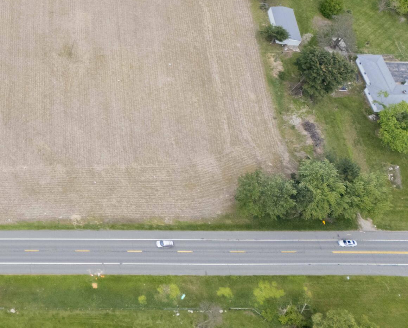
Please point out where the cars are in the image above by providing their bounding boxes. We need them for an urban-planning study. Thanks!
[156,240,175,250]
[339,240,359,249]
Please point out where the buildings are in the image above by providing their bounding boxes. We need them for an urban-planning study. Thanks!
[356,56,408,113]
[270,4,301,45]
